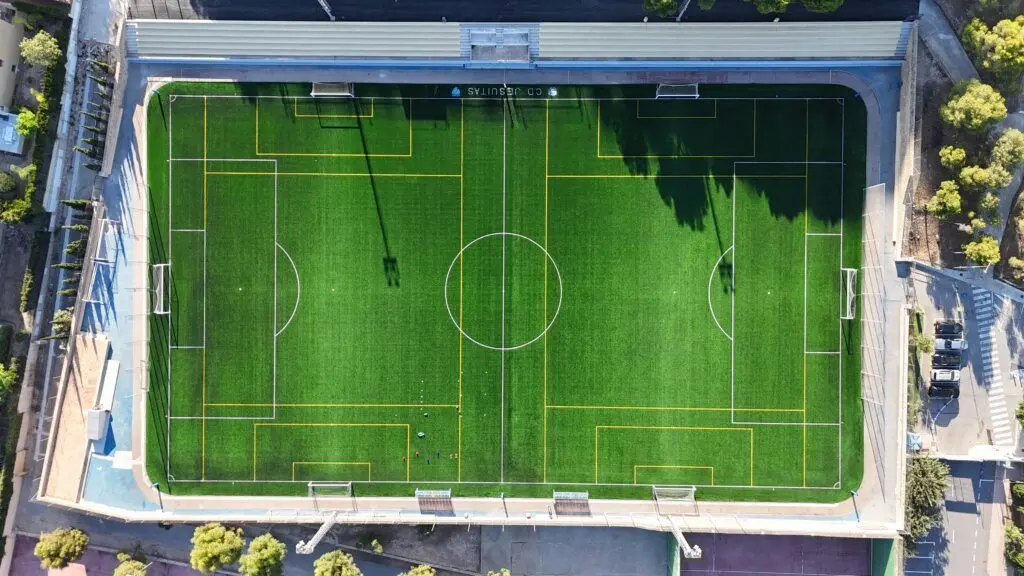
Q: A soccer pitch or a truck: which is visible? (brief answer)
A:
soccer pitch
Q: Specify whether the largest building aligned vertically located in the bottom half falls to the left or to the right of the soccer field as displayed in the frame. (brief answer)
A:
on its left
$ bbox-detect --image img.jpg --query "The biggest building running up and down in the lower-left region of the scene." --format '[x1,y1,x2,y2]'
[47,335,111,503]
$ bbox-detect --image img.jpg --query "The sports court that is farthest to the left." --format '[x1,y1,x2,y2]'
[481,526,667,576]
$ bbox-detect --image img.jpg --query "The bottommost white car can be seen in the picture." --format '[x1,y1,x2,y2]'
[930,369,959,383]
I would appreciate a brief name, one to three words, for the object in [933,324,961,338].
car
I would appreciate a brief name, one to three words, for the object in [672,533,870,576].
sports court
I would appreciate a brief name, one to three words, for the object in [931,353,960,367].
car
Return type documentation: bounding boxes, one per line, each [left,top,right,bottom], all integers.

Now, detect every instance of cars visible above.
[930,369,959,383]
[933,324,961,338]
[931,353,960,367]
[934,339,966,353]
[928,385,958,399]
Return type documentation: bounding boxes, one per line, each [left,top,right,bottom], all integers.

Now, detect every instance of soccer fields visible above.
[145,81,865,505]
